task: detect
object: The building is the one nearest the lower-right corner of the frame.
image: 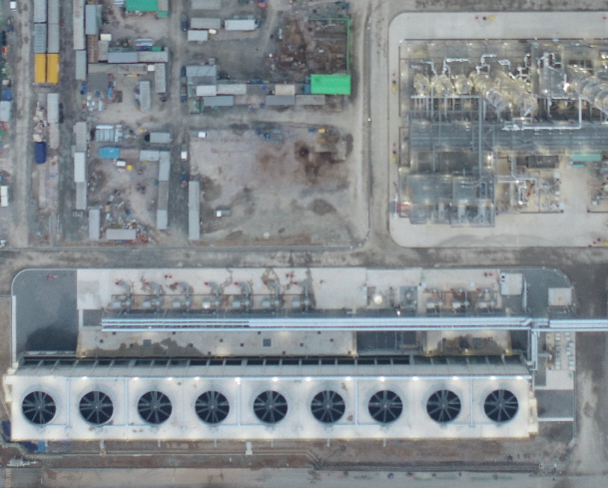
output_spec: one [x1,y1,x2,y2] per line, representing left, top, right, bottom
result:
[547,285,573,306]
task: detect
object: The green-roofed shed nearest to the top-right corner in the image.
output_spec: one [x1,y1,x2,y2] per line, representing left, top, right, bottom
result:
[310,73,350,95]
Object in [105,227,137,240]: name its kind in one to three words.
building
